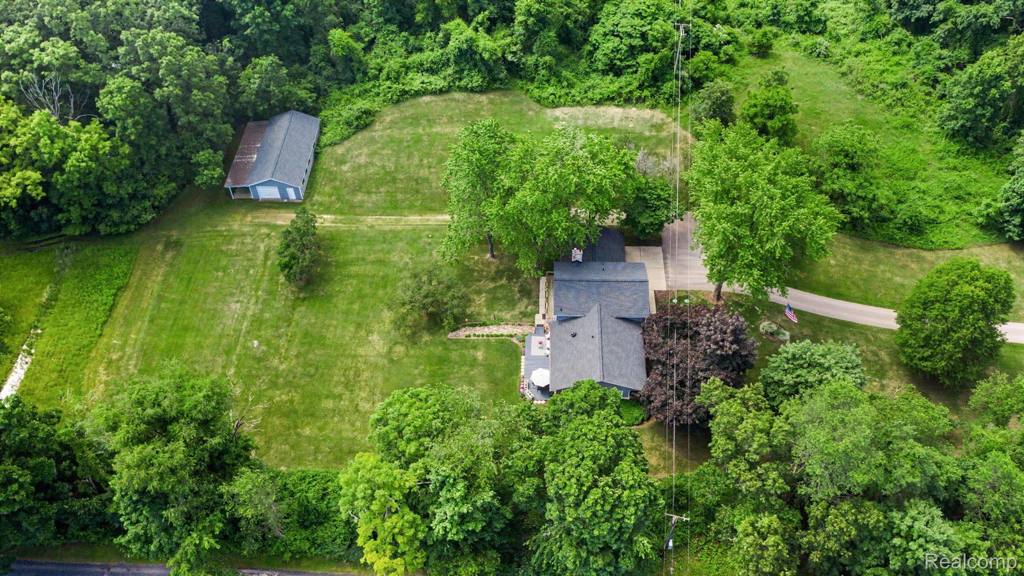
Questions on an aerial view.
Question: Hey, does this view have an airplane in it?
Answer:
No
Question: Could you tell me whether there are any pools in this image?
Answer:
No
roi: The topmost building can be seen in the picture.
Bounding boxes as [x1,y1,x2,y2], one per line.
[225,111,319,201]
